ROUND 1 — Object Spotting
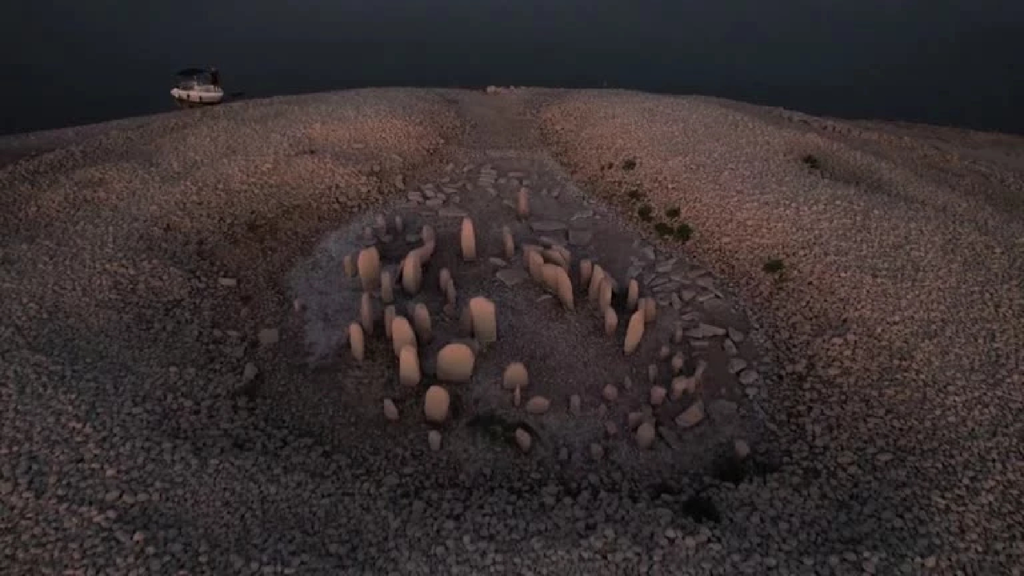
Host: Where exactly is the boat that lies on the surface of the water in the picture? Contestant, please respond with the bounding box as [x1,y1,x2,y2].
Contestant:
[167,70,228,105]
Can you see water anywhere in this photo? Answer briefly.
Yes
